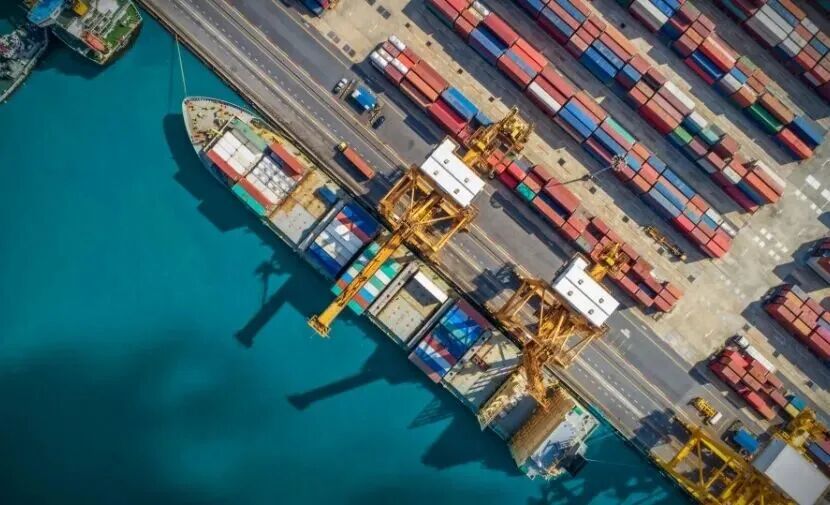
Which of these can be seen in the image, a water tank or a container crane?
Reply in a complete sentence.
Looking from above, you can make out a container crane.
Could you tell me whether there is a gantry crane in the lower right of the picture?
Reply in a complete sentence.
Yes, looking in the lower right of the picture, one can make out a gantry crane.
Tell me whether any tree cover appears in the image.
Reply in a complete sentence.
No, there's no tree cover in this view.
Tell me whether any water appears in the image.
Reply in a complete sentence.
Yes, the picture does contain water.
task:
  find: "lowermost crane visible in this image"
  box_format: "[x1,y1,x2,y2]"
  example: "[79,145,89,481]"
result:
[626,399,829,505]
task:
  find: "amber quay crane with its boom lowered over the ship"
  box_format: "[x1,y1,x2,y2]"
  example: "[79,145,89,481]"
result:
[303,105,524,333]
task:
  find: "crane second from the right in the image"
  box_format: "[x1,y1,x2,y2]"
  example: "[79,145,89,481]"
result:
[481,245,644,430]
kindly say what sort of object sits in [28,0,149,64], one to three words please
ship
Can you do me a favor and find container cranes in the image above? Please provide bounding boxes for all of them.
[303,105,524,333]
[481,245,644,430]
[626,399,829,505]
